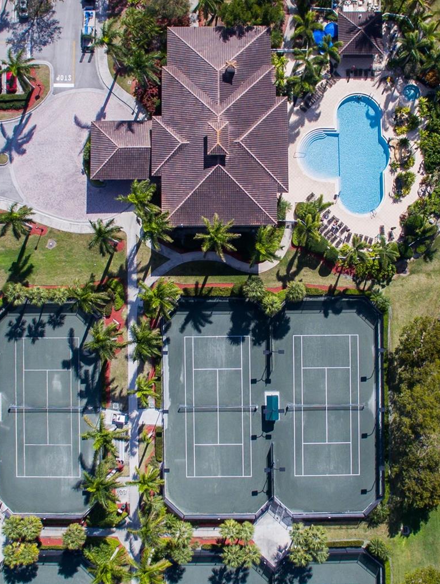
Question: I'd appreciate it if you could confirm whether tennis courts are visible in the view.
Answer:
Yes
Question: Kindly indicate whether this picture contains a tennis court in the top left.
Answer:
No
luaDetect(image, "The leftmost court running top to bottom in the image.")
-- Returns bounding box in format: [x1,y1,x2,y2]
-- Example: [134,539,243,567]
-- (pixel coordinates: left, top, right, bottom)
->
[0,302,99,514]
